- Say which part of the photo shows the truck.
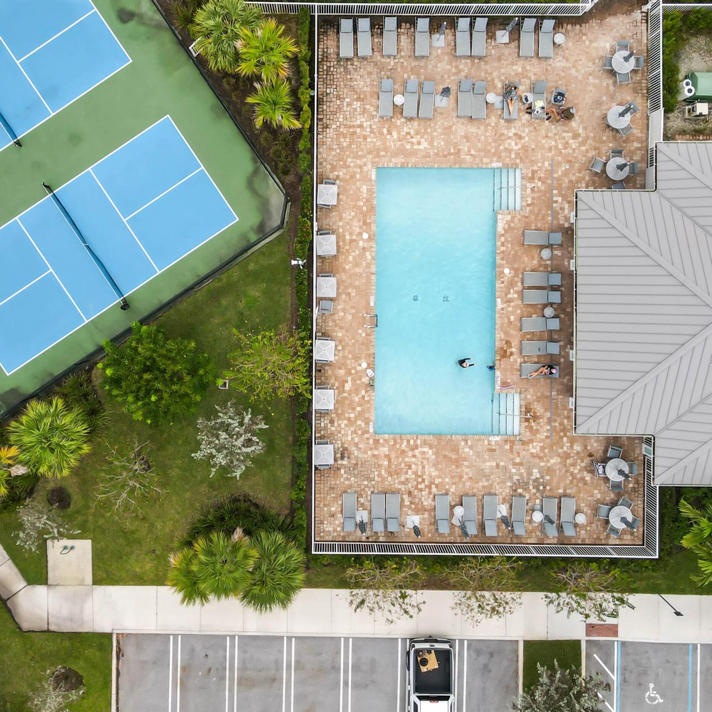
bottom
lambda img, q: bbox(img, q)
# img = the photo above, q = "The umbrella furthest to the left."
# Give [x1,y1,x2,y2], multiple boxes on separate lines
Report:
[357,510,369,535]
